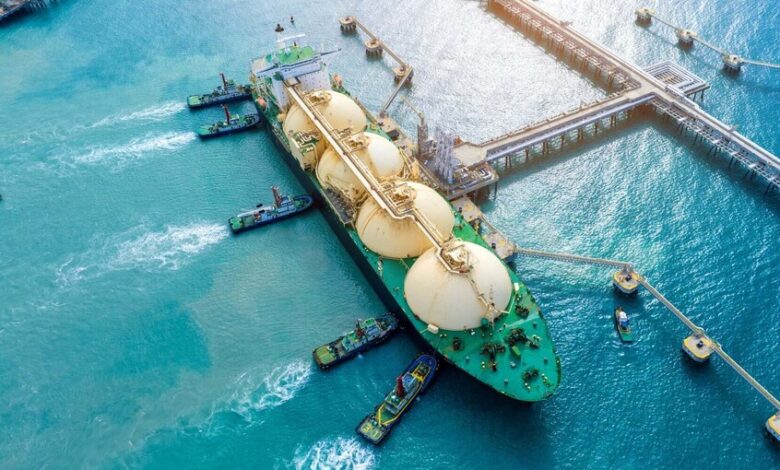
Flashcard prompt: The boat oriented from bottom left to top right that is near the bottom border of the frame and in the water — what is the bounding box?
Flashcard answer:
[353,356,440,447]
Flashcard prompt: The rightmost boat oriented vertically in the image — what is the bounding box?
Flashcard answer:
[617,309,631,343]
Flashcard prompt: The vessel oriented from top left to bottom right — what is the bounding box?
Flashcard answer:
[246,30,560,395]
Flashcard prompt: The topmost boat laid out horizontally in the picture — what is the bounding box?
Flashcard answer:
[186,76,251,110]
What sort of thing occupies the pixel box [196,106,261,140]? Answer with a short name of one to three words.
boat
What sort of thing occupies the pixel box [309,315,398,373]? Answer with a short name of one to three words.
boat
